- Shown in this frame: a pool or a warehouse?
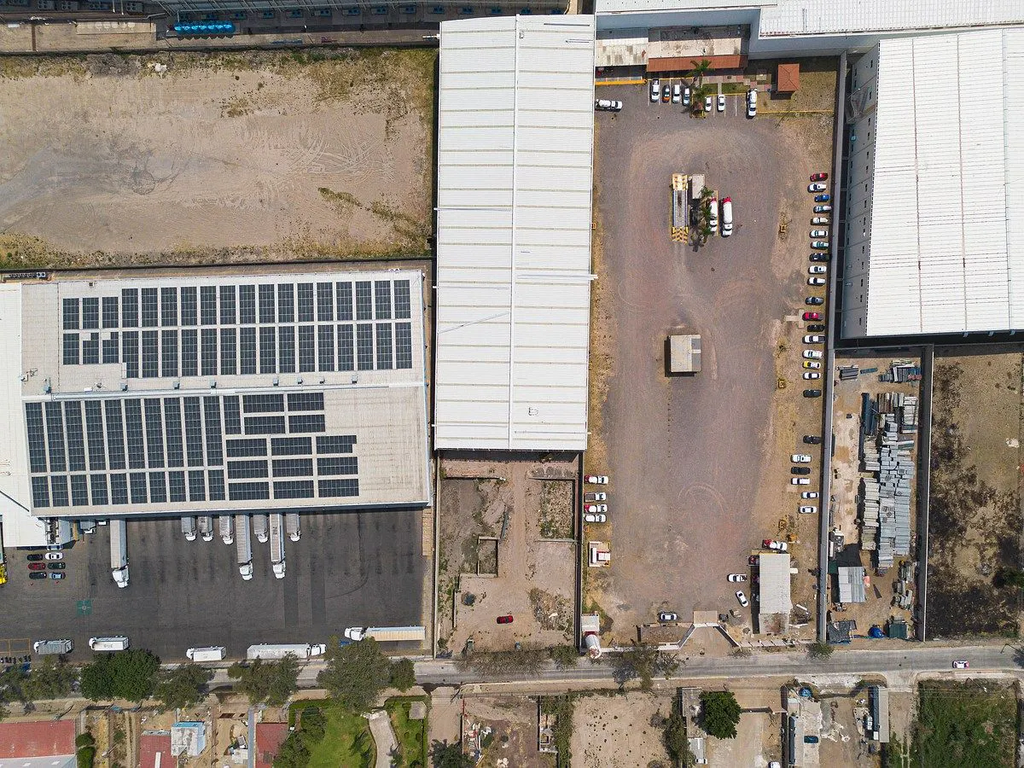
warehouse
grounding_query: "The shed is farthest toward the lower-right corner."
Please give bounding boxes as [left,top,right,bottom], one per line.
[869,678,889,742]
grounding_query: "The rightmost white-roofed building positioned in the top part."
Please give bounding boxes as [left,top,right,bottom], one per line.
[841,29,1024,339]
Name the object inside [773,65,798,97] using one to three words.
gazebo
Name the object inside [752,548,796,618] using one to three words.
shed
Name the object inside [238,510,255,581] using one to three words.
vehicle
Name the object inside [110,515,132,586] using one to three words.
truck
